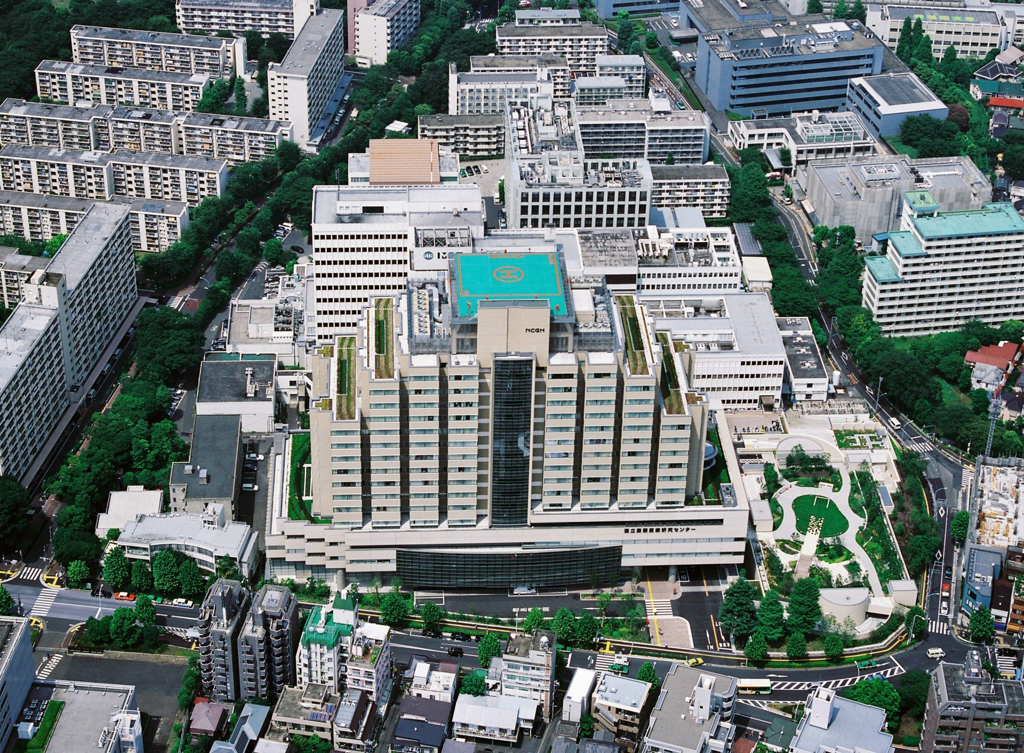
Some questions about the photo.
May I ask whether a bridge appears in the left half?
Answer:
No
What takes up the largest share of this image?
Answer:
buildings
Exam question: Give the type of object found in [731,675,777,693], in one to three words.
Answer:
vehicle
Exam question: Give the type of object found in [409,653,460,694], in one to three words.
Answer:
house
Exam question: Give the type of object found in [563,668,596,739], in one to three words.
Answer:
building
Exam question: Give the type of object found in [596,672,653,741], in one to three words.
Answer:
building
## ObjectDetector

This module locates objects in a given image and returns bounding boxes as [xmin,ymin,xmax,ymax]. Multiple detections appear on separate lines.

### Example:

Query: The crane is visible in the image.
[987,287,1024,424]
